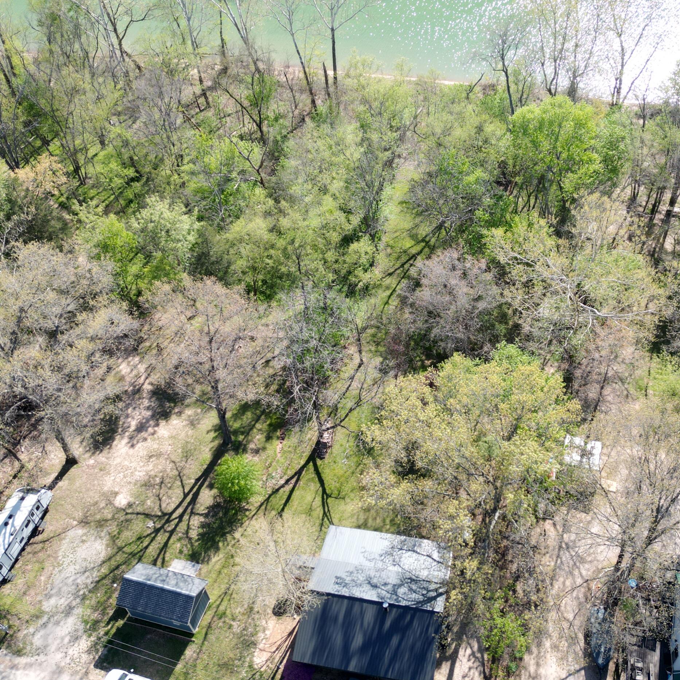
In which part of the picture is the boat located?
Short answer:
bottom right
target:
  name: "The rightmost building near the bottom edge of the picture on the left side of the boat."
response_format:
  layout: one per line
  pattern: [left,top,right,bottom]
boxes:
[285,527,454,680]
